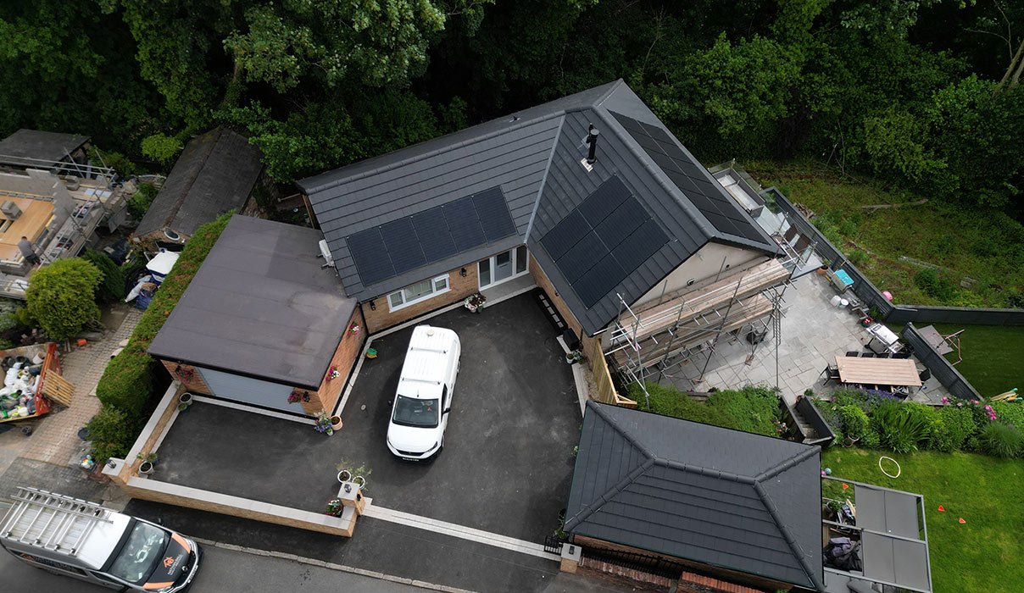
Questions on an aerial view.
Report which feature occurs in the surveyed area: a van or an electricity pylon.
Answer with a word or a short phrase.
van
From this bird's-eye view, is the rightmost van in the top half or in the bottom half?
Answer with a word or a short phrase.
bottom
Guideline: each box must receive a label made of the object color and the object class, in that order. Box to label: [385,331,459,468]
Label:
white van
